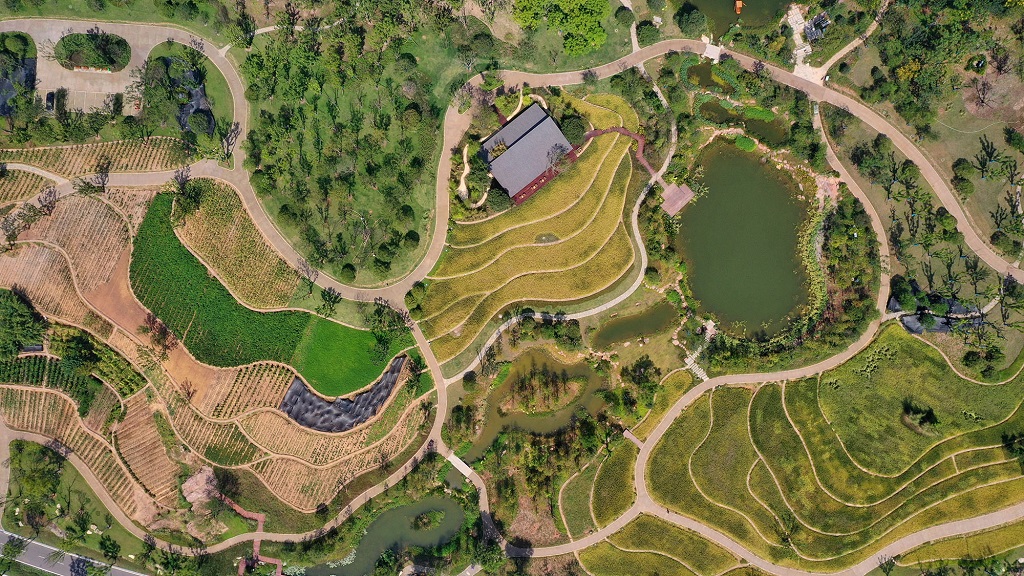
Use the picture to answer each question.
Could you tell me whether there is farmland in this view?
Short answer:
Yes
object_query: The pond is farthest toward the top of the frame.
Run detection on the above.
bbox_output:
[693,0,792,46]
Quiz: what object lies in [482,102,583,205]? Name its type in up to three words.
building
